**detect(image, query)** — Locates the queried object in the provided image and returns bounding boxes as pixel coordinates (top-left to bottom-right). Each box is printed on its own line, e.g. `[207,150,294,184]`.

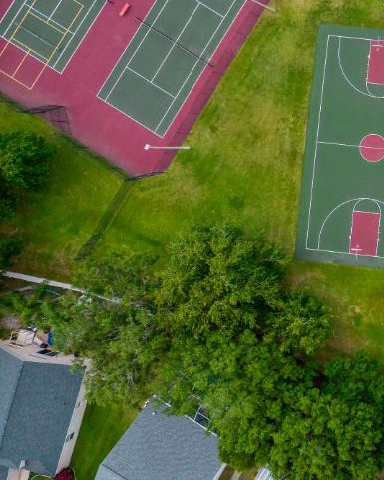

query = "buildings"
[0,337,96,480]
[95,401,233,480]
